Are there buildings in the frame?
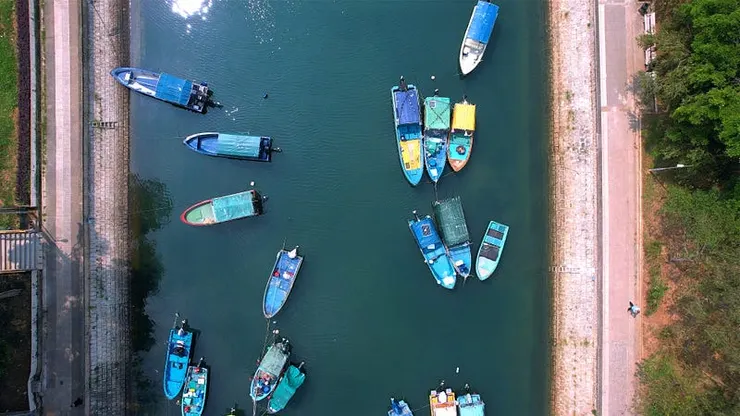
No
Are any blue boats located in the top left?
Yes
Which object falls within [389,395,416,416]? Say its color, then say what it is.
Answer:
blue boat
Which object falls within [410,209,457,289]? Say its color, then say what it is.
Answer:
blue boat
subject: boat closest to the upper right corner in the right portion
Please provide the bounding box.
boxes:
[460,0,501,77]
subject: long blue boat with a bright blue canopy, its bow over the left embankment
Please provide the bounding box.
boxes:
[111,71,223,110]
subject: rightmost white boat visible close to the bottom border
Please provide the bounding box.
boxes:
[430,379,457,416]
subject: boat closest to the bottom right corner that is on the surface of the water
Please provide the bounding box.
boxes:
[457,386,484,416]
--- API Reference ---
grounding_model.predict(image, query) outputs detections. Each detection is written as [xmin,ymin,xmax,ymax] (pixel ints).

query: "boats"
[460,0,501,77]
[181,190,267,224]
[185,358,209,416]
[447,97,475,172]
[433,194,472,278]
[424,89,450,182]
[457,386,484,416]
[264,249,302,317]
[392,78,424,186]
[430,379,457,416]
[477,221,509,281]
[389,395,416,416]
[165,313,192,399]
[410,209,457,289]
[248,338,293,402]
[111,71,223,110]
[270,360,307,413]
[184,134,284,160]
